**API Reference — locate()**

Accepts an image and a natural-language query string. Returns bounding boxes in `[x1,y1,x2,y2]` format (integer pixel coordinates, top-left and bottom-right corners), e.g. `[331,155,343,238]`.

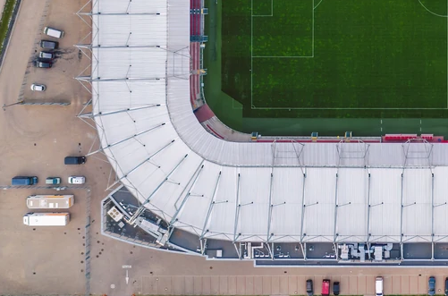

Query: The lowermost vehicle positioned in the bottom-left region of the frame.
[22,212,73,226]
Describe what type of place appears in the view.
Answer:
sports ground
